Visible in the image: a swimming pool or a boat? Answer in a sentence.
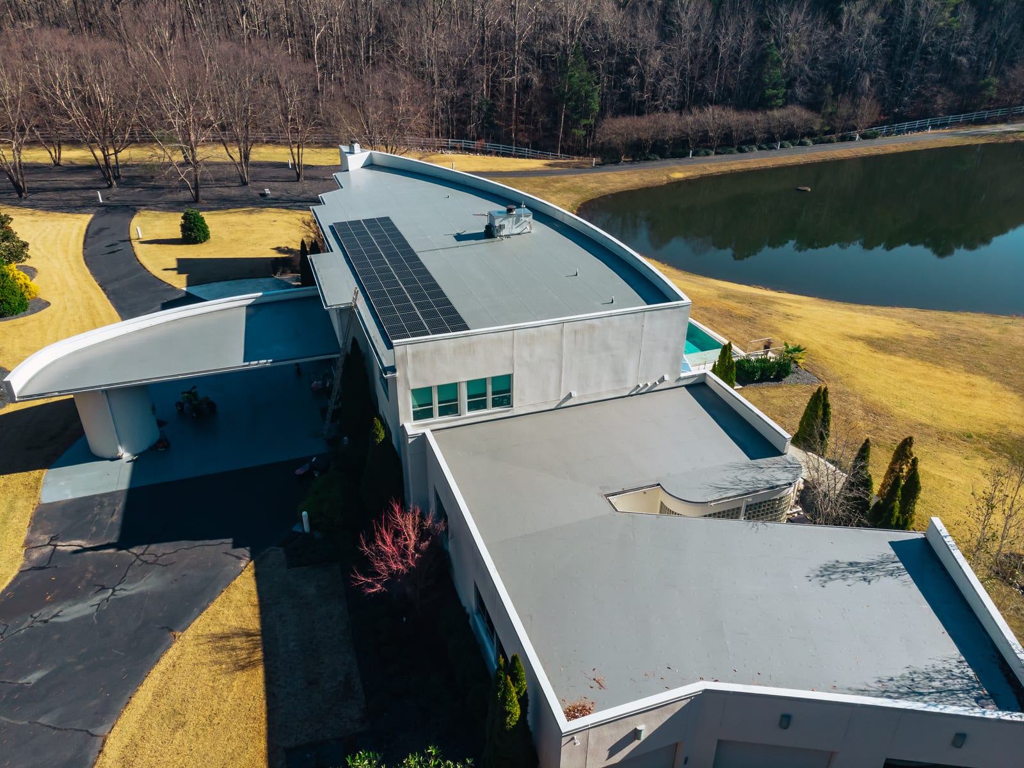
Visible in the photo is a swimming pool.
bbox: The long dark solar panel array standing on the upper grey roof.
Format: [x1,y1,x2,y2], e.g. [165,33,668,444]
[333,216,469,343]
